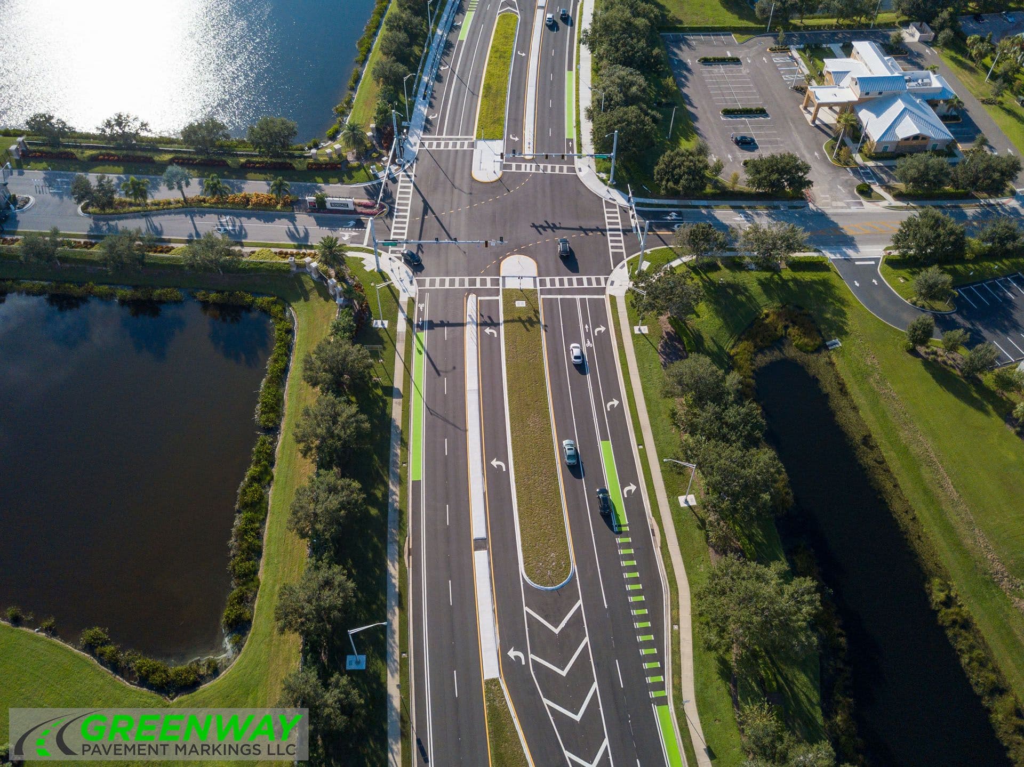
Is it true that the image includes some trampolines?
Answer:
No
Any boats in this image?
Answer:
No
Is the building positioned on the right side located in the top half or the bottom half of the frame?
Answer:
top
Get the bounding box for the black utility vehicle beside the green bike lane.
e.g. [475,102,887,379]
[596,490,613,520]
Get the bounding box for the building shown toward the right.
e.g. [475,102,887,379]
[797,35,954,153]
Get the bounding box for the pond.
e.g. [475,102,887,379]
[0,287,286,692]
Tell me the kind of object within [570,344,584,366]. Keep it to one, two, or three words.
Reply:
car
